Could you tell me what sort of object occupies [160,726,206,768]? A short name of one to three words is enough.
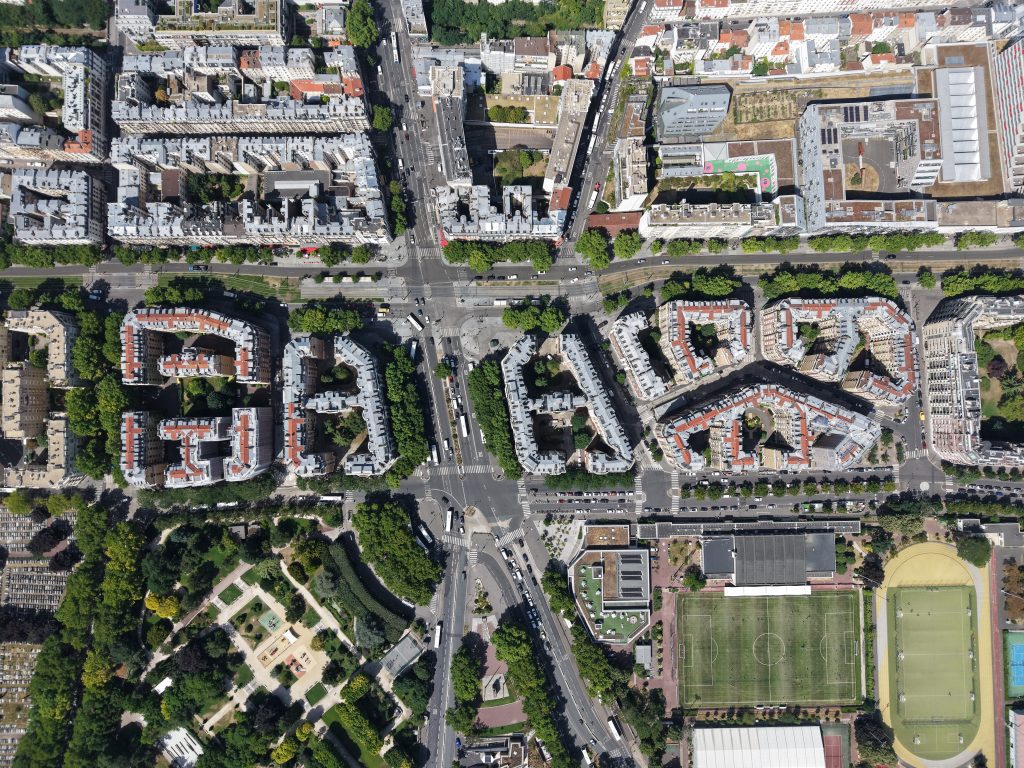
greenhouse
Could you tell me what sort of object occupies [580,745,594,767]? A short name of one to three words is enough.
vehicle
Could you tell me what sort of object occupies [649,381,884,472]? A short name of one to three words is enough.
building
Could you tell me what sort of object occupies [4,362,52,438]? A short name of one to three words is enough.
building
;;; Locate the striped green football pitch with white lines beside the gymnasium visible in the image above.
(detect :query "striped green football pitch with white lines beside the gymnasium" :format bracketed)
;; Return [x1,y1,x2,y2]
[677,589,864,709]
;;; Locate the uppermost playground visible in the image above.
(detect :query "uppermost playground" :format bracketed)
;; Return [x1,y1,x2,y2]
[703,155,778,195]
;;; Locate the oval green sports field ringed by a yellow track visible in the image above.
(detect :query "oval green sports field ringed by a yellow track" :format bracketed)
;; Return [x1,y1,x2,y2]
[876,542,993,768]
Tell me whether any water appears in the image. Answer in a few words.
No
